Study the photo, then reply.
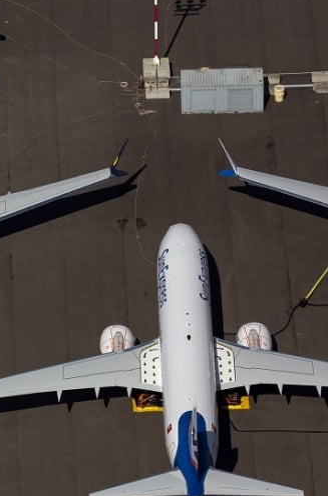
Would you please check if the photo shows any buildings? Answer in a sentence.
No, the photo shows no building.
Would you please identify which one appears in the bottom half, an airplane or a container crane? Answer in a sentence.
It is an airplane that can be seen in the bottom half.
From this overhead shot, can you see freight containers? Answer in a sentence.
Yes, this view includes a freight container.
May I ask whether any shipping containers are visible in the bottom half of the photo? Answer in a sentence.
No, the scene shows no shipping container in the bottom half of the photo.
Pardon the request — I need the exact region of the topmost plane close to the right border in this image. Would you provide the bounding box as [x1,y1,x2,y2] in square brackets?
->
[220,140,328,206]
